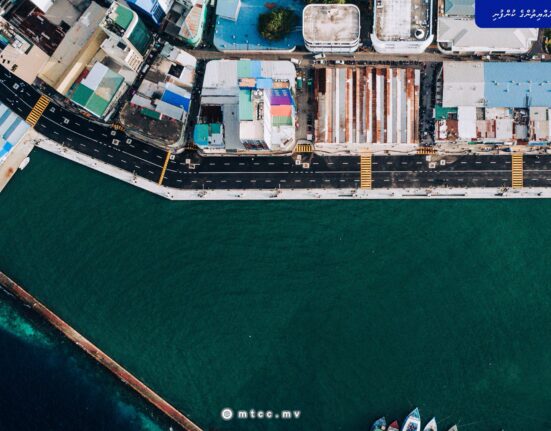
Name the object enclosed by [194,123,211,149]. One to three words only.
house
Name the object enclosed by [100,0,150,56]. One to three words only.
building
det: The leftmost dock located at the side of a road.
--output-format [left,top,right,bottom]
[0,133,38,197]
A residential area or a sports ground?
residential area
